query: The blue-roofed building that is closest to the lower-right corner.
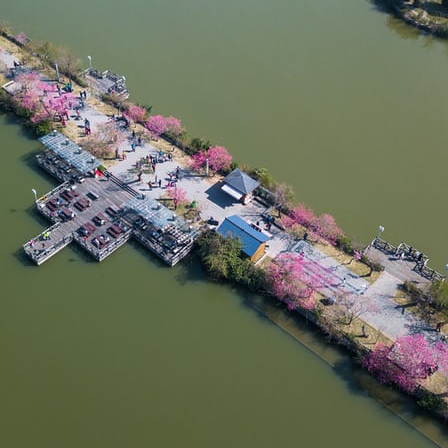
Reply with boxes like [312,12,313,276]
[217,216,279,262]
